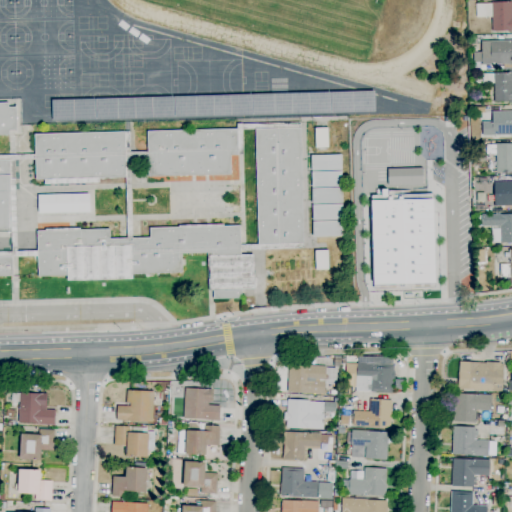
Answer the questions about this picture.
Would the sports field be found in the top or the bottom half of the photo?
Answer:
top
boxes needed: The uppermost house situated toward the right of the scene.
[477,1,512,30]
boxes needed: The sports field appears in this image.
[144,0,383,62]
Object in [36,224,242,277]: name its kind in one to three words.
building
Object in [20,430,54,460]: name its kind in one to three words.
house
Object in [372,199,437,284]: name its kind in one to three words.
building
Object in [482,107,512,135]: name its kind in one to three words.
house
